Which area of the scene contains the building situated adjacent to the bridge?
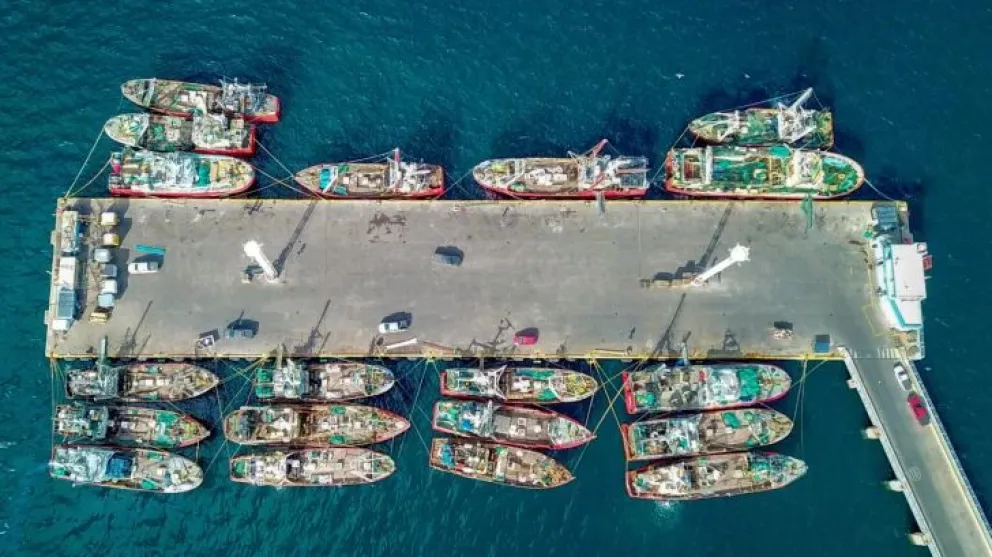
right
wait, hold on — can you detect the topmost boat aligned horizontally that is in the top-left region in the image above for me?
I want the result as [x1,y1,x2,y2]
[119,65,282,123]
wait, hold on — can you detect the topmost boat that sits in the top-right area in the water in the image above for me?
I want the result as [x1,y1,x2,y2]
[690,82,834,151]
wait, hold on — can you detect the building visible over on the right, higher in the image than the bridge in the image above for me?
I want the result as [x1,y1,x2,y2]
[872,238,931,331]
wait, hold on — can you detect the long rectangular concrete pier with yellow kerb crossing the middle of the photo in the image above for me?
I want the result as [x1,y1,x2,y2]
[44,199,922,362]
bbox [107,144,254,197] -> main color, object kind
white boat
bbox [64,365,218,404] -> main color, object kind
gray boat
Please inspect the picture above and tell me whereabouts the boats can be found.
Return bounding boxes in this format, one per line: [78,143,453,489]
[64,365,218,404]
[428,438,574,486]
[107,144,254,197]
[662,146,865,200]
[622,366,792,412]
[46,446,204,494]
[618,410,795,459]
[51,405,209,447]
[431,399,601,447]
[254,362,395,401]
[230,448,395,487]
[474,140,653,198]
[442,365,599,404]
[119,65,282,123]
[103,103,261,158]
[224,403,410,446]
[294,148,443,199]
[623,451,808,497]
[690,82,834,151]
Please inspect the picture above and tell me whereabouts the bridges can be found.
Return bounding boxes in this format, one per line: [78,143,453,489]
[839,337,992,557]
